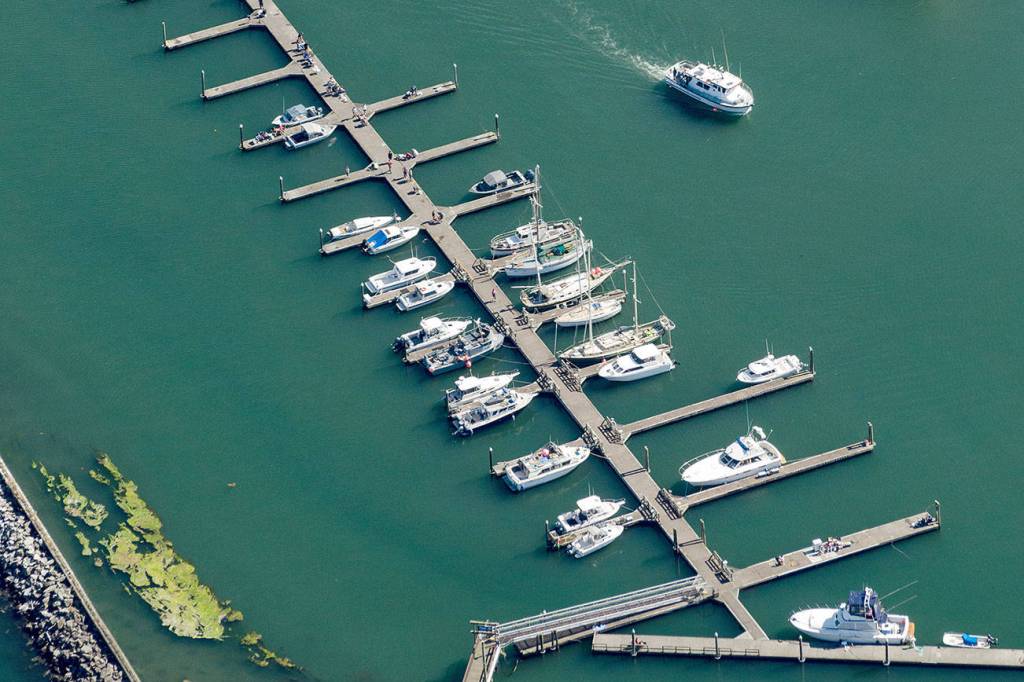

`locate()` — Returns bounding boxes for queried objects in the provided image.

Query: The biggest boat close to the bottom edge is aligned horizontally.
[788,587,930,650]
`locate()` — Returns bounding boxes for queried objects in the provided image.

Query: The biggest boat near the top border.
[665,31,755,115]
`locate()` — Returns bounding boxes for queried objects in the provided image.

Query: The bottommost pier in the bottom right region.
[595,633,1024,670]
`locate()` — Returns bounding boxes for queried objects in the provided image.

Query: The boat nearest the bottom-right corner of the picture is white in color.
[942,633,998,649]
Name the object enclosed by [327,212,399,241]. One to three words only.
boat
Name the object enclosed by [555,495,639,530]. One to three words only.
boat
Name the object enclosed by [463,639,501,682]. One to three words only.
pier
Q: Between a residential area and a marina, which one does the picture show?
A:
marina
